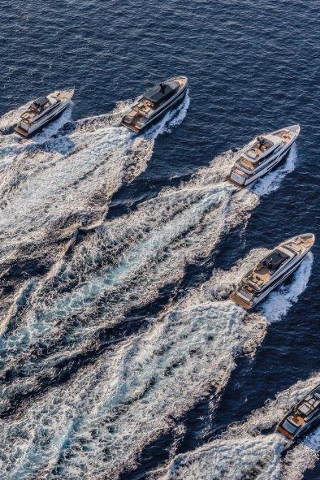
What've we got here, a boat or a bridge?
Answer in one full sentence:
There is a boat in the scene.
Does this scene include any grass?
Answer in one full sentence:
No, the picture contains no grass.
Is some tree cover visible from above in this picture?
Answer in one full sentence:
No, the scene doesn't show any tree cover.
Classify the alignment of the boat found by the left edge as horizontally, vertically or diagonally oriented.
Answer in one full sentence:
Seen from above, the boat found by the left edge lies diagonally.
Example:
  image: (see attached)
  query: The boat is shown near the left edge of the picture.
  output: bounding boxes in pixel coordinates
[13,85,74,138]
